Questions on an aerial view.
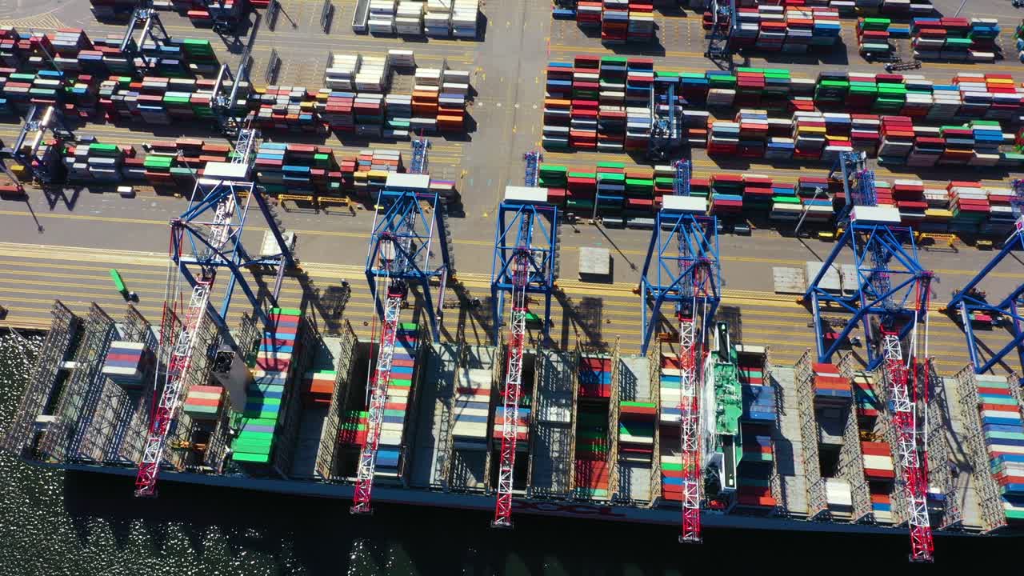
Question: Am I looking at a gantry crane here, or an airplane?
gantry crane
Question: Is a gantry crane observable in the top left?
Yes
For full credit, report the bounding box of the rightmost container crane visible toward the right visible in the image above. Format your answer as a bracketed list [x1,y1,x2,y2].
[937,178,1024,381]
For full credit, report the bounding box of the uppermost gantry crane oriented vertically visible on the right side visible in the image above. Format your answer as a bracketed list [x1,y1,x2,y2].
[701,0,735,64]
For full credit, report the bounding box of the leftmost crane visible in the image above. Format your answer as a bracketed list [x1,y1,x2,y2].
[14,108,81,188]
